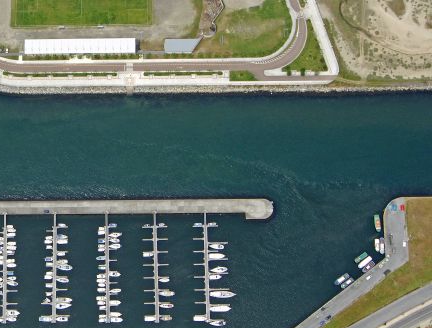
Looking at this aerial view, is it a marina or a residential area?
marina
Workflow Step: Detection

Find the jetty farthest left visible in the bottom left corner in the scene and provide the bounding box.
[0,215,18,324]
